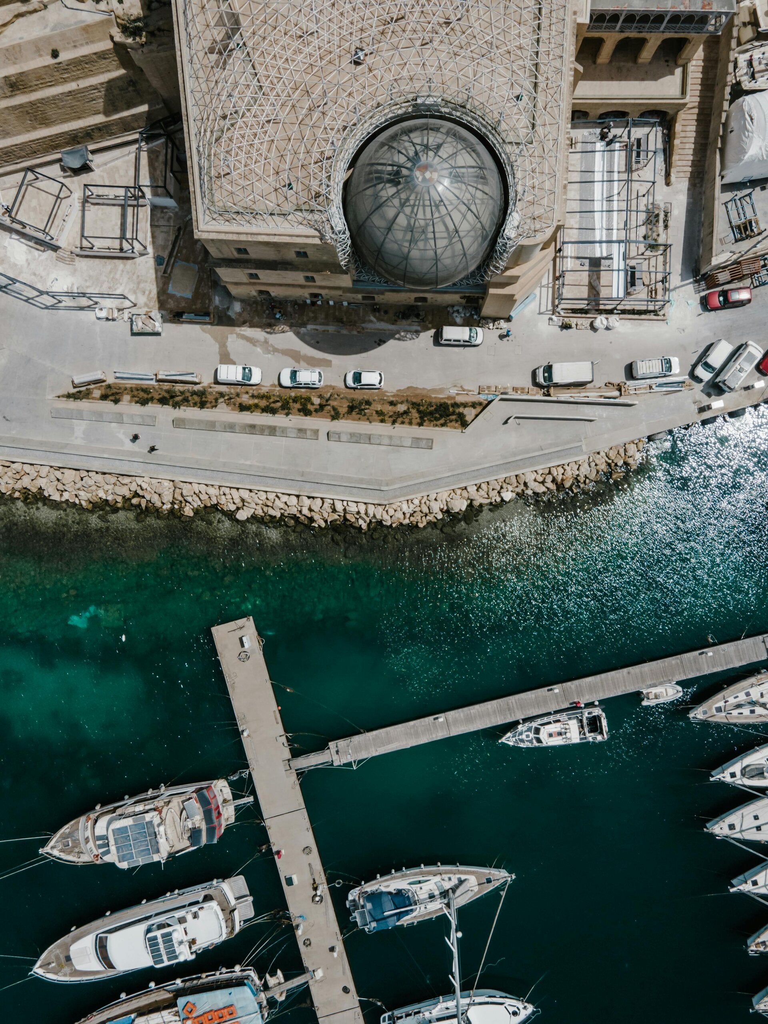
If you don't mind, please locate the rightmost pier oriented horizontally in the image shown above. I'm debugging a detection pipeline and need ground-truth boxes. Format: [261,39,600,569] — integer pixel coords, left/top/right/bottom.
[329,633,768,765]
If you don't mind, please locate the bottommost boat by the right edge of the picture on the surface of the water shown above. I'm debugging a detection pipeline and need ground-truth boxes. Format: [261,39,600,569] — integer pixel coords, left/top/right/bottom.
[743,983,768,1017]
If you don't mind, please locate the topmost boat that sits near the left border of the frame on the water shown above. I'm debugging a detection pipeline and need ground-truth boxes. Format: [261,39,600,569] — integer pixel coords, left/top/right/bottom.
[5,771,264,879]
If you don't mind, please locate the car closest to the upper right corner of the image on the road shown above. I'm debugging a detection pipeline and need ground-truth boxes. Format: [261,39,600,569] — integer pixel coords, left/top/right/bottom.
[701,287,754,313]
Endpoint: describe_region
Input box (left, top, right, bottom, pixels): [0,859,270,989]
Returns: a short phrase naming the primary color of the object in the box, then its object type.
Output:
white boat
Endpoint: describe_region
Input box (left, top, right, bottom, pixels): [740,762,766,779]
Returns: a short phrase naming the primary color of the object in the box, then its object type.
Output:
gray boat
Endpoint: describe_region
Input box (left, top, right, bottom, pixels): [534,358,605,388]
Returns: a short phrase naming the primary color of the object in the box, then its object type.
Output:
white van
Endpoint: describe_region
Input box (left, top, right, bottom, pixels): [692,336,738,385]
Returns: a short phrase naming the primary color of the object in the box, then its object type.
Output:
white car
